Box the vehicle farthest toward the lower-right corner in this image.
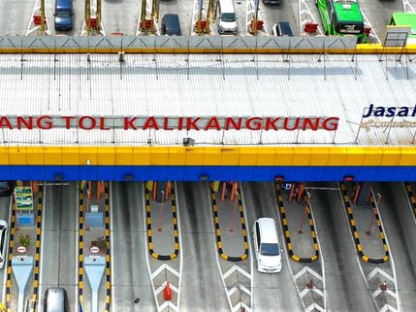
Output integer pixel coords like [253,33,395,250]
[250,210,284,268]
